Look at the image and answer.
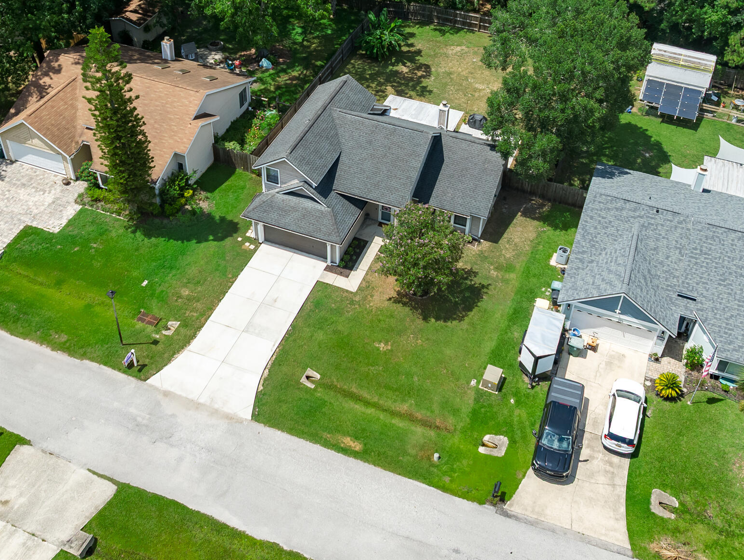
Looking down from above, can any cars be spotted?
Yes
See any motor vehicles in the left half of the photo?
No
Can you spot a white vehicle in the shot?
Yes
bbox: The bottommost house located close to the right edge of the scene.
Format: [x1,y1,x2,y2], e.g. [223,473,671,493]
[557,161,744,384]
